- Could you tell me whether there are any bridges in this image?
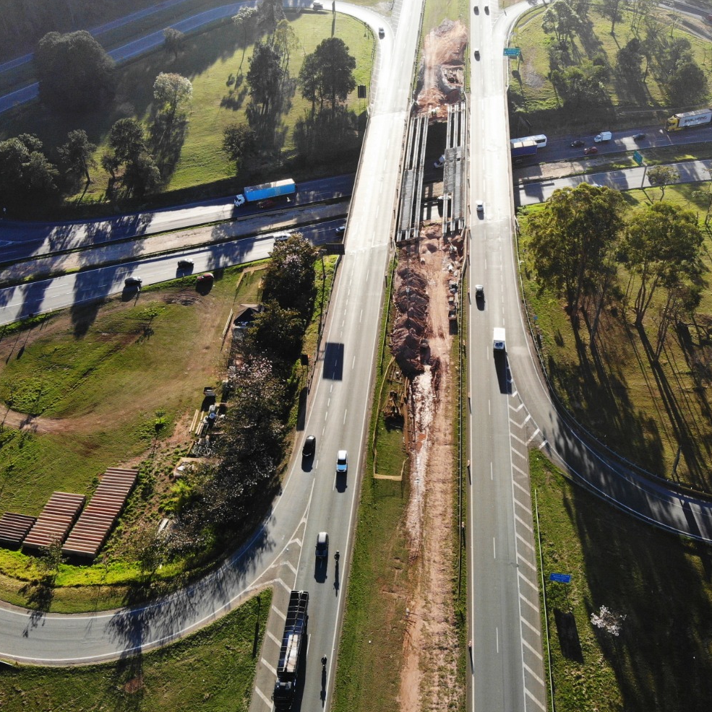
Yes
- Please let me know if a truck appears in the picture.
Yes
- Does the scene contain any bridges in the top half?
Yes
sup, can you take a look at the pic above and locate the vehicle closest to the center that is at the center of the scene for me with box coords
[383,389,408,427]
